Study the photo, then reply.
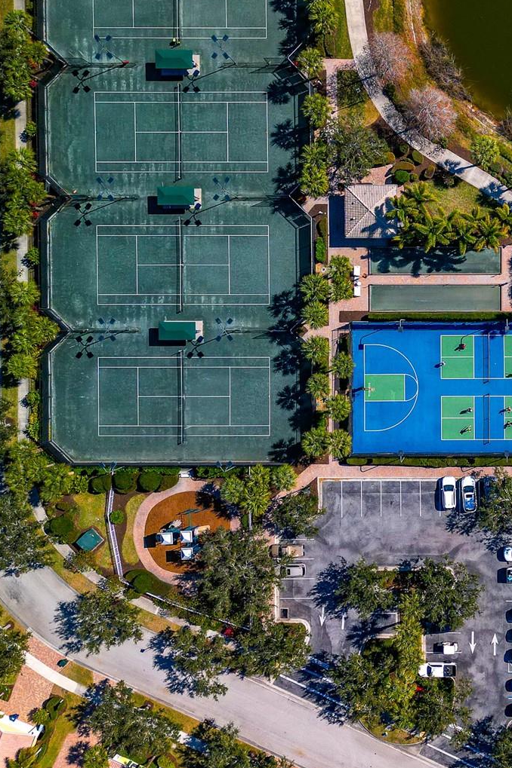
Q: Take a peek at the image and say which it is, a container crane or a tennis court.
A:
tennis court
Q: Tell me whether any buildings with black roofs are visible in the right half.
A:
No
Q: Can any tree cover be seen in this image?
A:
Yes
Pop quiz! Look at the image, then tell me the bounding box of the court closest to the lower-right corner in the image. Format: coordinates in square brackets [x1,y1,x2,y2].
[352,322,512,456]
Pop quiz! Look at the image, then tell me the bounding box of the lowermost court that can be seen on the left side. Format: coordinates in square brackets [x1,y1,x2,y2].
[51,330,316,464]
